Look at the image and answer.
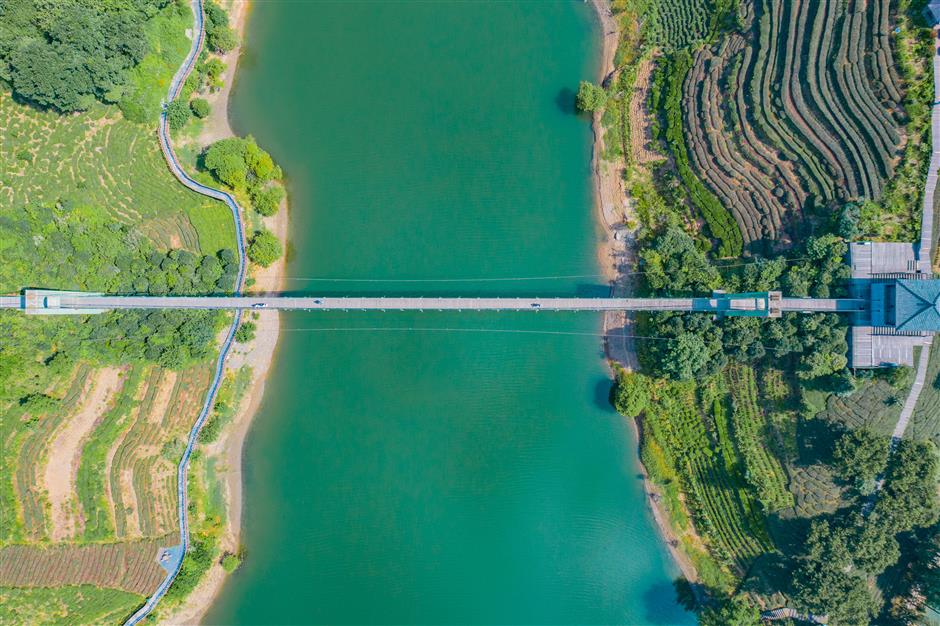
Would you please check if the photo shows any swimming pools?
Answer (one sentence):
No, there is no swimming pool in the image.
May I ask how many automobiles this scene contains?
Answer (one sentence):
No automobiles are visible.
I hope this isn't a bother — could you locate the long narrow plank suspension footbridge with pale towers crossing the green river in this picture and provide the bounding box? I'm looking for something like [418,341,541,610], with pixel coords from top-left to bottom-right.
[0,260,871,354]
